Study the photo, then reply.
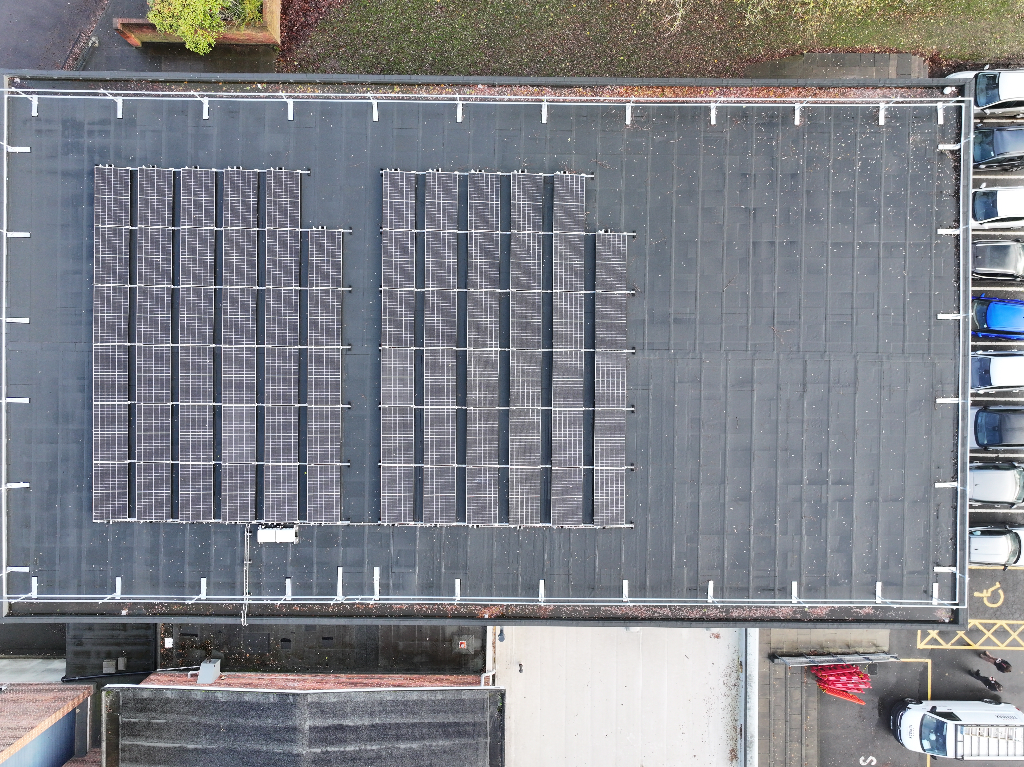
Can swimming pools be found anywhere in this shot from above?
No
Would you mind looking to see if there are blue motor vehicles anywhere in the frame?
Yes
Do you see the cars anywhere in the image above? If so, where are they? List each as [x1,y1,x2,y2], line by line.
[970,458,1024,513]
[973,179,1024,234]
[972,288,1024,341]
[973,231,1024,287]
[974,118,1024,175]
[971,345,1024,399]
[971,401,1024,455]
[969,522,1024,573]
[940,61,1024,121]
